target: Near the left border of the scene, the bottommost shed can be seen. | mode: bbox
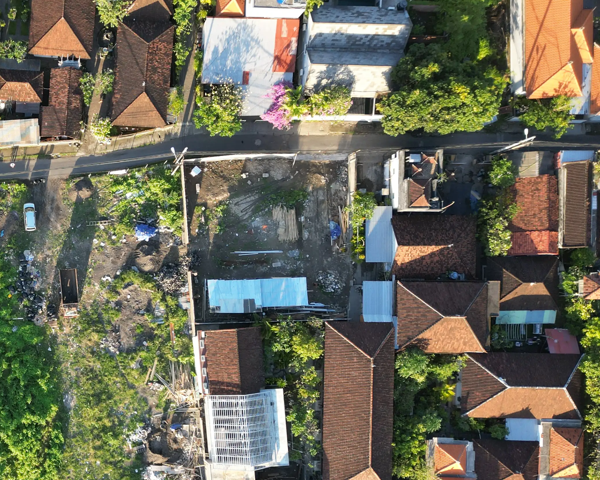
[0,121,40,145]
